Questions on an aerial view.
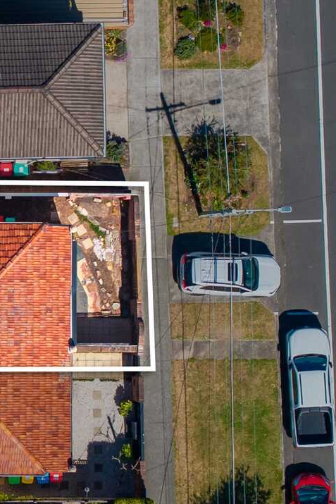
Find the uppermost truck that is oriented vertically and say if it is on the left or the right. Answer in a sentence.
The uppermost truck that is oriented vertically sits on the right side.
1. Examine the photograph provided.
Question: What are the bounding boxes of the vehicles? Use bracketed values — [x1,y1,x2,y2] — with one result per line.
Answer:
[176,250,281,299]
[284,325,336,447]
[291,471,336,504]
